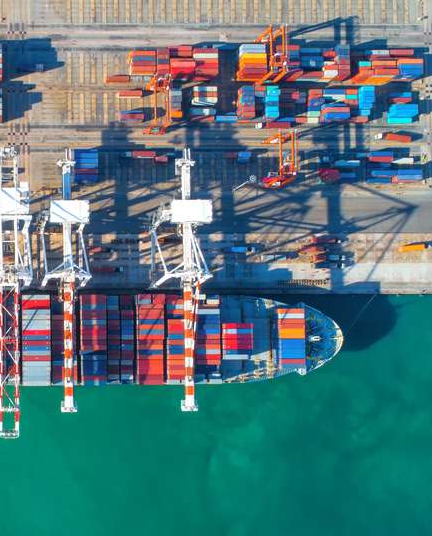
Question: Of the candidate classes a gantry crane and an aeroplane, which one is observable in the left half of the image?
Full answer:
The feature located in the left half of the image is a gantry crane.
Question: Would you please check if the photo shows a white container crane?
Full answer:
Yes, this view includes a white container crane.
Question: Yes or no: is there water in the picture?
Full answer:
Yes, there's water in this view.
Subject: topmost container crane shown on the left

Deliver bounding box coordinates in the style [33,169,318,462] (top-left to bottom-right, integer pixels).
[141,72,173,136]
